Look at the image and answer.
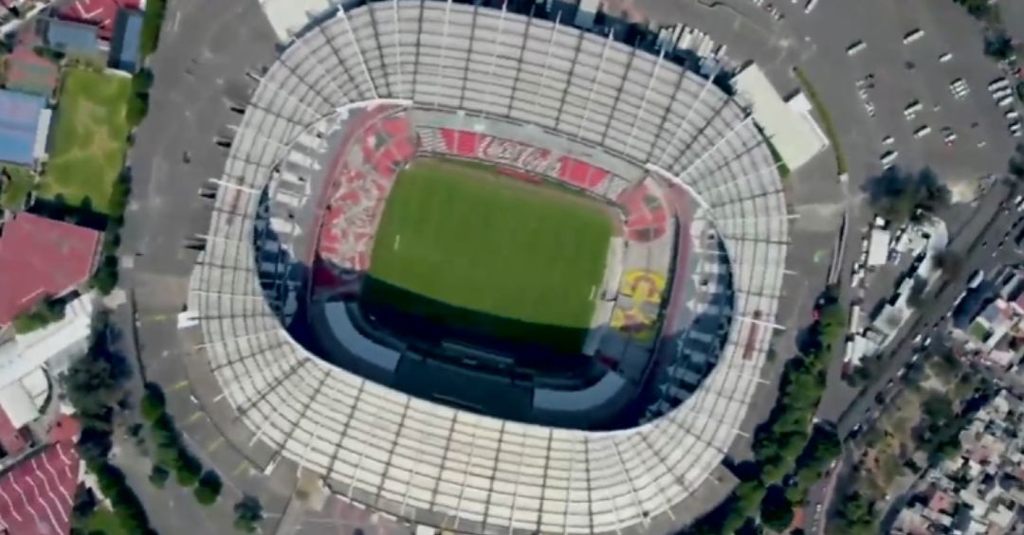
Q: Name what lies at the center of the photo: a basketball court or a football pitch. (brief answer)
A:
football pitch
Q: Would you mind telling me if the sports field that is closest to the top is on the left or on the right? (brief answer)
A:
left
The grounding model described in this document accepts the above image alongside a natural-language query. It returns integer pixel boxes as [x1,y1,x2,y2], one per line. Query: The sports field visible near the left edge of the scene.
[38,70,132,210]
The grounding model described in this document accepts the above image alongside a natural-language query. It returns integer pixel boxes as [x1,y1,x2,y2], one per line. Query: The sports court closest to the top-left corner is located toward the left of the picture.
[7,45,57,95]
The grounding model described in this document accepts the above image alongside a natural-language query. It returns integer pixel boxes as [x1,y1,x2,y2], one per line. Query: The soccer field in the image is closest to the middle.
[364,159,623,357]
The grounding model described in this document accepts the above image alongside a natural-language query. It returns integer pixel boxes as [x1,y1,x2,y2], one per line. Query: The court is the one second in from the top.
[0,91,46,130]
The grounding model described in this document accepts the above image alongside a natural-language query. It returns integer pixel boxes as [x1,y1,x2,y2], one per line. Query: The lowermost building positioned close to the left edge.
[0,438,88,535]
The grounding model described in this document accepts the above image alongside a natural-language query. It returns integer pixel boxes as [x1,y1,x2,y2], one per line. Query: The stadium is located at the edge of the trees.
[175,0,801,535]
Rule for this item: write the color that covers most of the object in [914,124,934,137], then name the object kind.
white vehicle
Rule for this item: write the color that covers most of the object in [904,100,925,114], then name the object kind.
white vehicle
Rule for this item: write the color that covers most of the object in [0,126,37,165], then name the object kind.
blue basketball court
